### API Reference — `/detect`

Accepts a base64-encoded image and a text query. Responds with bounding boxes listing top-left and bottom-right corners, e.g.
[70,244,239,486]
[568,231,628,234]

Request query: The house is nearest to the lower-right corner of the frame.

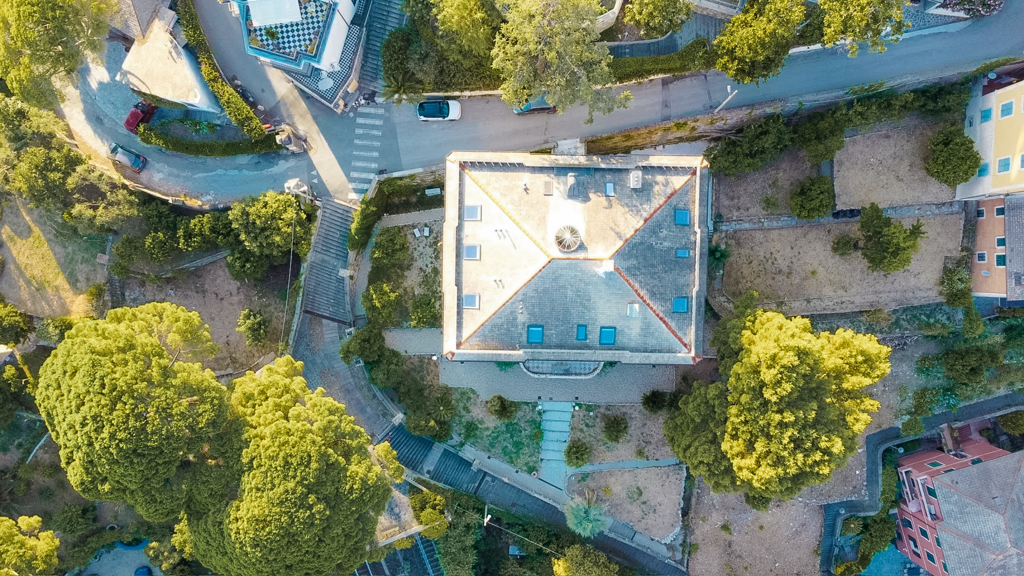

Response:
[898,438,1024,576]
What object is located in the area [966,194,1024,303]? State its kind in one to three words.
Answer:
house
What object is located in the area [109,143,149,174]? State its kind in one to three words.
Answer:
car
